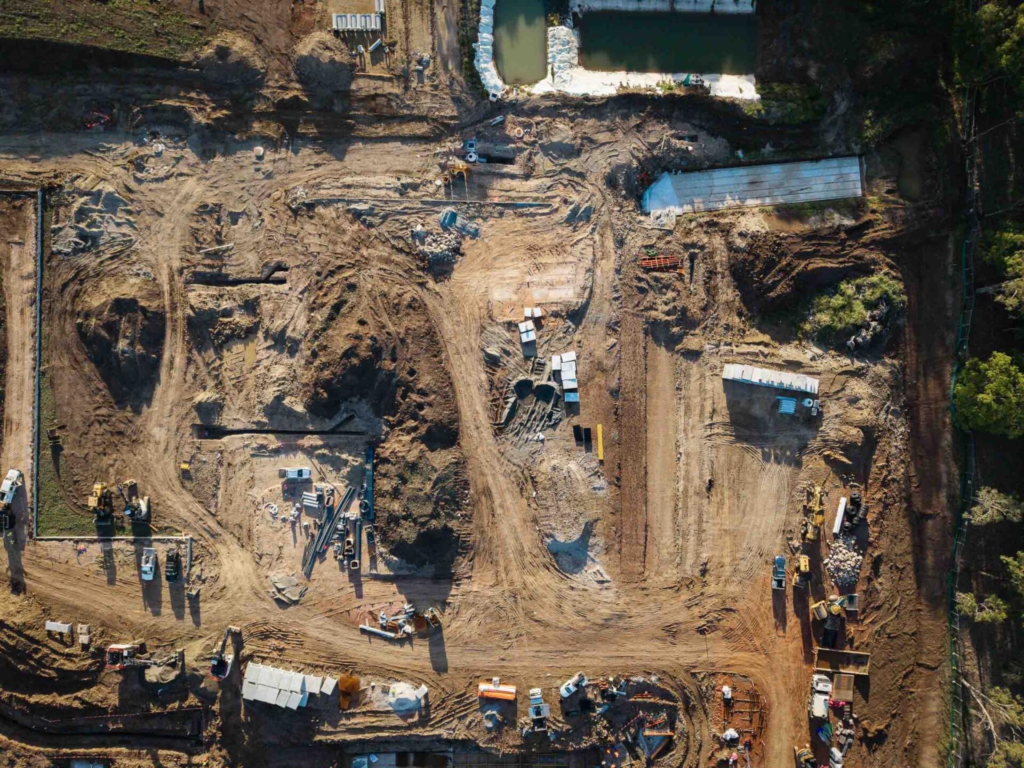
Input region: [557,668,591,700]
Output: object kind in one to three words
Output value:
truck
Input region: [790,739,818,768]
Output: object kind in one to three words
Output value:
work vehicle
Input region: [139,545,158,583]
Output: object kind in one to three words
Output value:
vehicle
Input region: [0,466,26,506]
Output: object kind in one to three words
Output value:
truck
